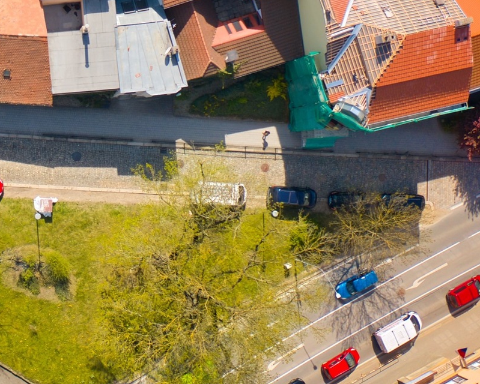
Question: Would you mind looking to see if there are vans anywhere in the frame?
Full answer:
Yes, a van appears in the view.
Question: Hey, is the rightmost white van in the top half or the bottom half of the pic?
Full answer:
The bottom half of the photo is where the rightmost white van is.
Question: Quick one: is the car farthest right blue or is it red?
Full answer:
The car farthest right looks red in the image.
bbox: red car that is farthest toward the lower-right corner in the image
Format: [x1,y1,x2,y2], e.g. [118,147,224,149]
[441,274,480,312]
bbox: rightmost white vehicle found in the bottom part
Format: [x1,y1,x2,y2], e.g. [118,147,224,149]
[365,310,430,358]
